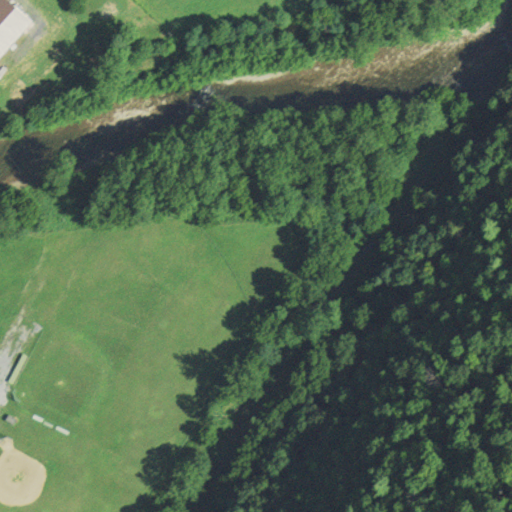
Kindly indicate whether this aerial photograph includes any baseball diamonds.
Yes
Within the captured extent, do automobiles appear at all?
No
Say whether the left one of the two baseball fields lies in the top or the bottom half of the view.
bottom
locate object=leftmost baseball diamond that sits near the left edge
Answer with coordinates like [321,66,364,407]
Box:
[0,436,48,508]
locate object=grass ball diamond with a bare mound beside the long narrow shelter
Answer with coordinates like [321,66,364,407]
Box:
[19,318,114,422]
